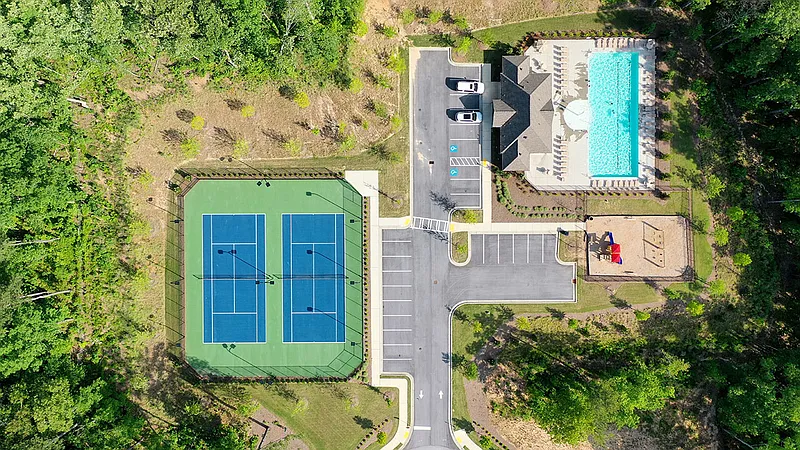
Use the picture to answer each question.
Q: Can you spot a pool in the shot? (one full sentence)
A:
Yes, looking at the shot, I can spot a pool.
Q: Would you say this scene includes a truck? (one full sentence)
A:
No, the photo shows no truck.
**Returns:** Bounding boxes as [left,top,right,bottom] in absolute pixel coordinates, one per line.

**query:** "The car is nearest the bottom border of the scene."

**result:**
[455,109,482,123]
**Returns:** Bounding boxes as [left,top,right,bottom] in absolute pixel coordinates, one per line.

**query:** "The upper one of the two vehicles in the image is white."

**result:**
[456,80,484,92]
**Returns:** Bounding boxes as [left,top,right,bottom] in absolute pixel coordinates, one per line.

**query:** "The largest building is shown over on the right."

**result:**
[491,55,556,171]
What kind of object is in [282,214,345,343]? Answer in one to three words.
tennis court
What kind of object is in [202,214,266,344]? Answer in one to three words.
tennis court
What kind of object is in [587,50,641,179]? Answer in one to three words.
swimming pool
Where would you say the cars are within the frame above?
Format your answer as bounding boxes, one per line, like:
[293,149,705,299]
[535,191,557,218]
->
[456,80,484,92]
[455,109,482,123]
